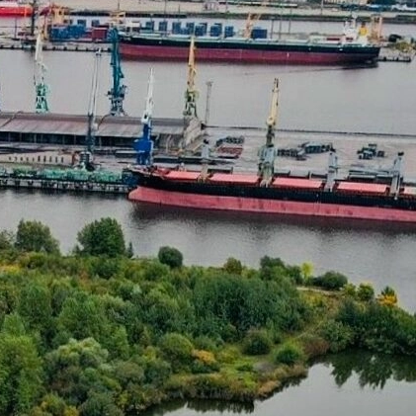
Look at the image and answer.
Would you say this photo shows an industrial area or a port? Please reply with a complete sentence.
What you see here is a port.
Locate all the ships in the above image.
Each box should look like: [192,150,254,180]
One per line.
[114,14,381,65]
[0,0,42,15]
[126,138,416,222]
